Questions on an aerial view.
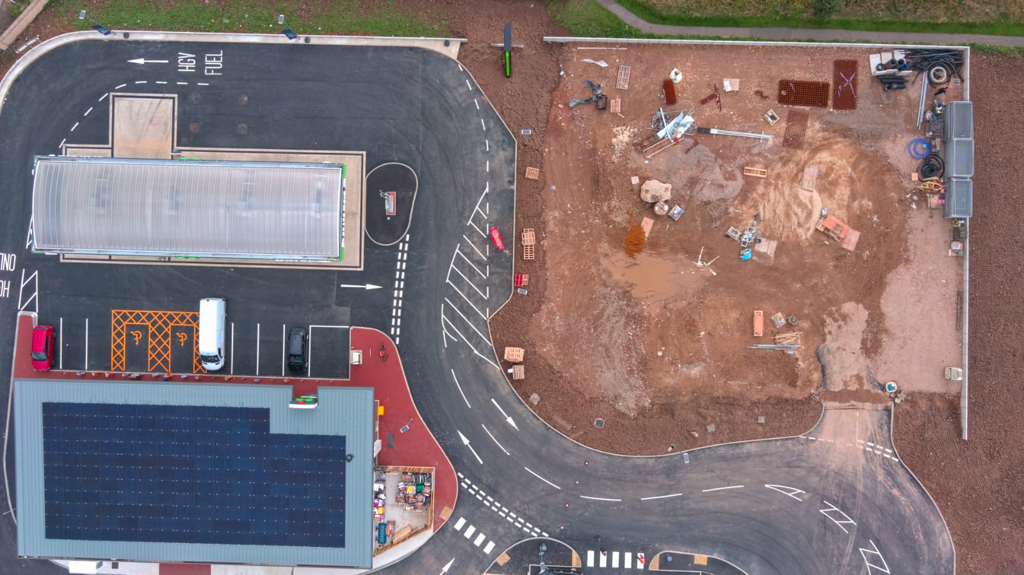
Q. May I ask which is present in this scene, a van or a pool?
van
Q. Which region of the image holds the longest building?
bottom left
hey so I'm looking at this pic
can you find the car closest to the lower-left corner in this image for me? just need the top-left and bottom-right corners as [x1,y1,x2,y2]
[31,325,59,370]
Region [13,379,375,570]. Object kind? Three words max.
building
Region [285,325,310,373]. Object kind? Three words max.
car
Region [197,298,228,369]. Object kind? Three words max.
van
